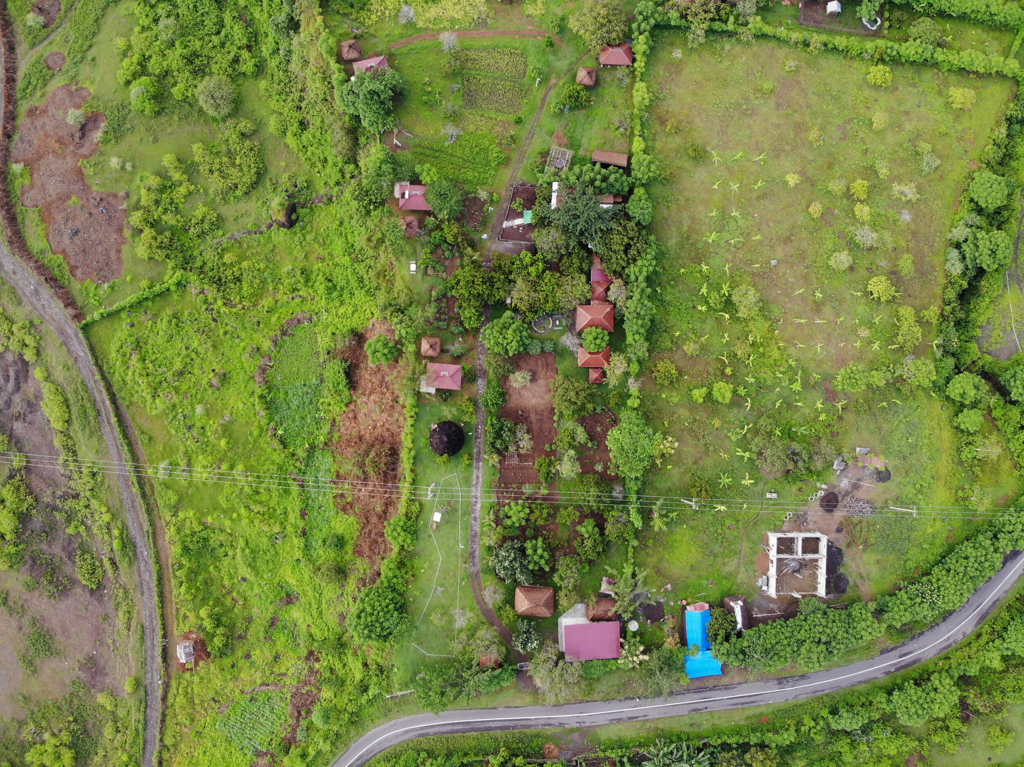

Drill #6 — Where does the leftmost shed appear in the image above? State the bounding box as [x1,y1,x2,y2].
[176,643,195,664]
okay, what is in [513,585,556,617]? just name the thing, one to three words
house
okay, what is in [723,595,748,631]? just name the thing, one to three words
barn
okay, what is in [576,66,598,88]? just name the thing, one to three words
shed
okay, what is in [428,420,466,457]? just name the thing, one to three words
building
